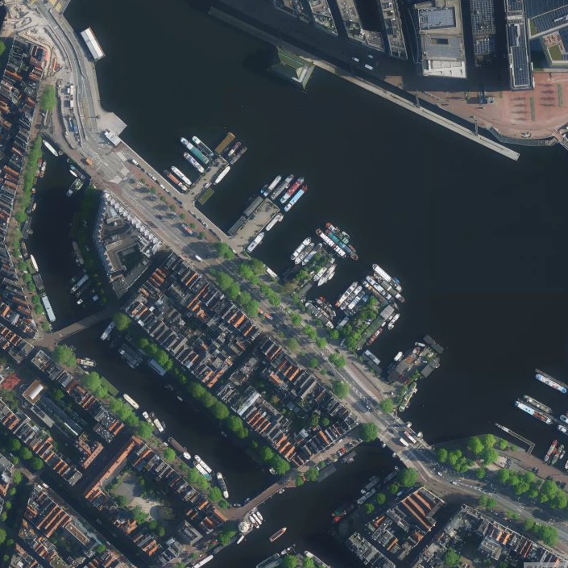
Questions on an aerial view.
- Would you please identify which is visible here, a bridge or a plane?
bridge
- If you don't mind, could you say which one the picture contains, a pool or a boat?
boat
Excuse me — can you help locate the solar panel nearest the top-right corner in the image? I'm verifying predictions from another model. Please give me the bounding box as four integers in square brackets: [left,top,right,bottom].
[533,5,568,32]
